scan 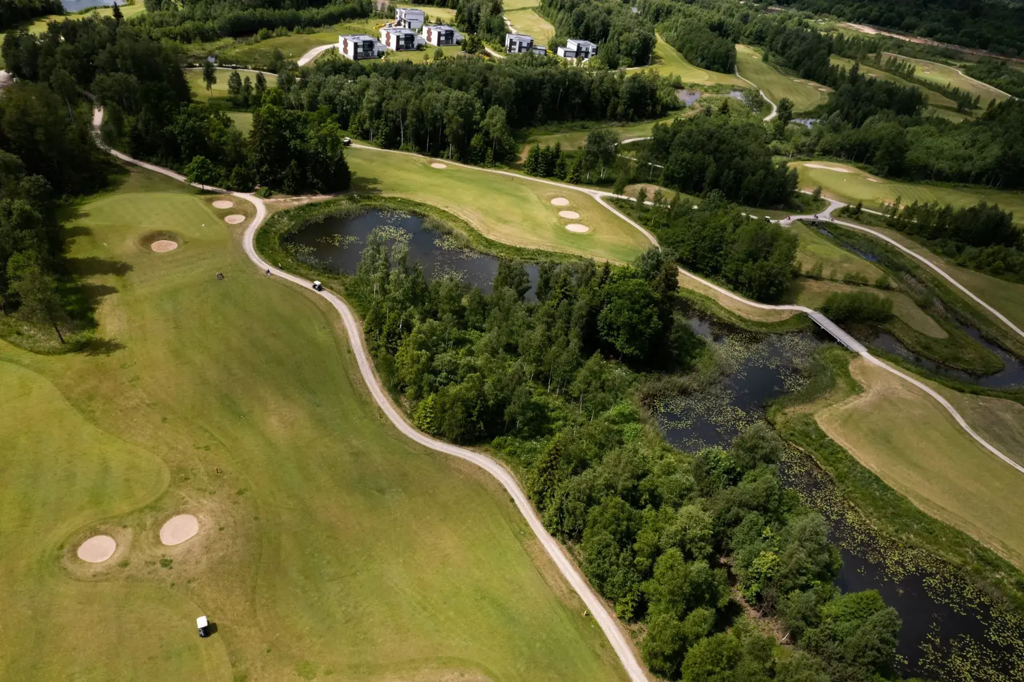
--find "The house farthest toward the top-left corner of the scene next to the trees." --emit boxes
[337,30,387,61]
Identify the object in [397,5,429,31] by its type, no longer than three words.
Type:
house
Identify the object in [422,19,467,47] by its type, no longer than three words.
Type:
house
